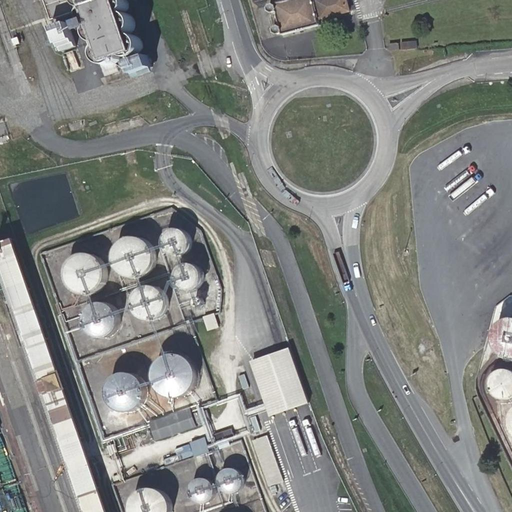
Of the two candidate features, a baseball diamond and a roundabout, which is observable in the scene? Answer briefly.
roundabout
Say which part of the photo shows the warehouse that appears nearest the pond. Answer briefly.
bottom left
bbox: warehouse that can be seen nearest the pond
[0,238,110,512]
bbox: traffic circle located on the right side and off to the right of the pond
[248,65,399,221]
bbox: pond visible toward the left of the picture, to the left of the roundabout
[10,172,82,237]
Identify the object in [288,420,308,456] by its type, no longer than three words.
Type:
vehicle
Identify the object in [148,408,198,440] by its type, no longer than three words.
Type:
shed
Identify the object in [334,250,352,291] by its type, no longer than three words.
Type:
vehicle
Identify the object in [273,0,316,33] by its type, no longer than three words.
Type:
house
